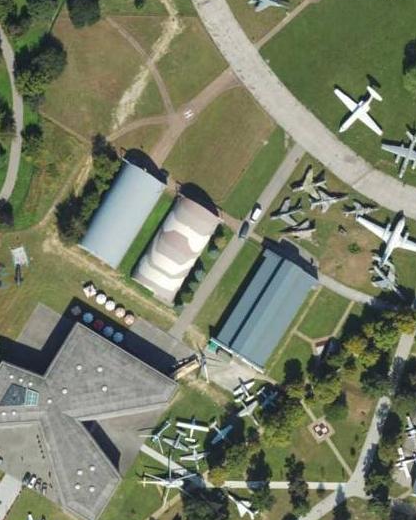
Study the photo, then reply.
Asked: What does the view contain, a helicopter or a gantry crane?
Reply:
helicopter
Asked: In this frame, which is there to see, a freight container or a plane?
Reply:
plane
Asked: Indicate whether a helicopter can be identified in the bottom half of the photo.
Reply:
Yes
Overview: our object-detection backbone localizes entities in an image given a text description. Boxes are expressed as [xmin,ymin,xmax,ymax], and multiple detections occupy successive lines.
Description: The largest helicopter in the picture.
[138,452,196,508]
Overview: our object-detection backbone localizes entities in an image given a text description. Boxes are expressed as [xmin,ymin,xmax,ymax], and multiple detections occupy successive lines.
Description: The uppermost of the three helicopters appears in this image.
[198,346,222,384]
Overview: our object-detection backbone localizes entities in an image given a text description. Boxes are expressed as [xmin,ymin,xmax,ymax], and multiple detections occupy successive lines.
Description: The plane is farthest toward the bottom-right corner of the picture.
[396,447,416,478]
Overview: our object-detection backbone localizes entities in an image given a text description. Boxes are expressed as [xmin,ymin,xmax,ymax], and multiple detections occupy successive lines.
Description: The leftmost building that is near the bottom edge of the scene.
[0,323,178,520]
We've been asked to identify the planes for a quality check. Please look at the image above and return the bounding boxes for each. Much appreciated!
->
[407,415,416,444]
[396,447,416,478]
[238,394,263,427]
[231,378,255,403]
[271,199,306,227]
[311,192,349,215]
[331,82,384,136]
[257,0,289,12]
[176,419,209,441]
[370,264,401,295]
[282,220,317,241]
[183,445,210,471]
[352,216,416,273]
[380,133,416,177]
[228,494,257,520]
[165,431,190,449]
[344,202,379,222]
[210,422,231,441]
[293,170,327,200]
[257,387,282,412]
